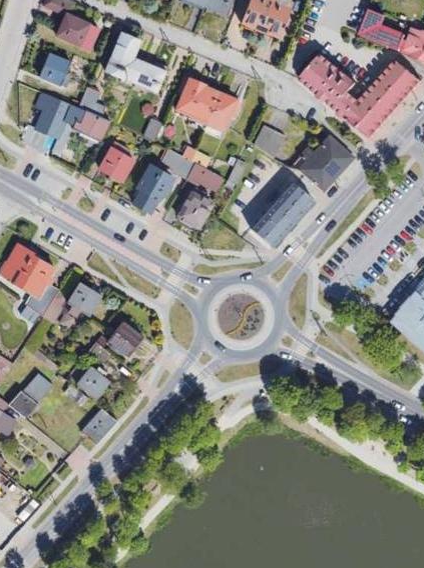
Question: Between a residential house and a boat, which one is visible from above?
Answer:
residential house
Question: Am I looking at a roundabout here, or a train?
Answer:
roundabout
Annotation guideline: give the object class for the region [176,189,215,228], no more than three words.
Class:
house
